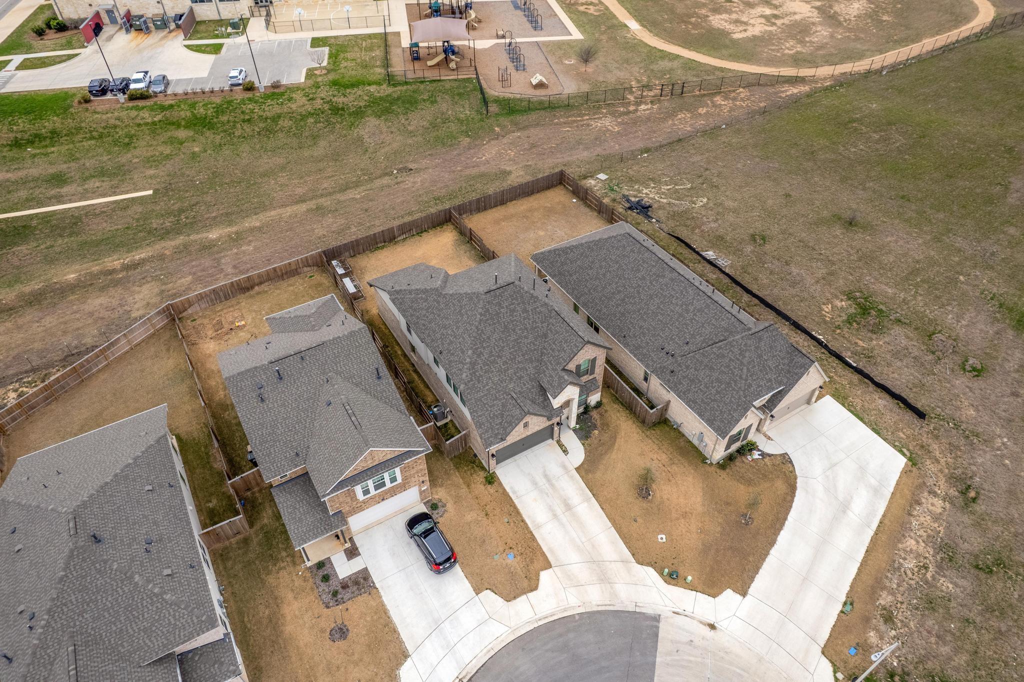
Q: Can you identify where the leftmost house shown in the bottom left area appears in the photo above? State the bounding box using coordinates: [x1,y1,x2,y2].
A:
[0,404,252,682]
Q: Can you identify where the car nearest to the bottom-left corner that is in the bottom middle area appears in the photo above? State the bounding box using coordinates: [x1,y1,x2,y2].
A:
[403,511,461,577]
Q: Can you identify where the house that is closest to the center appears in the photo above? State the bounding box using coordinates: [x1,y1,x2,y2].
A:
[368,253,614,473]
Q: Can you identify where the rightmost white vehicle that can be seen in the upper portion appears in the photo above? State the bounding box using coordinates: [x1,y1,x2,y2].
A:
[227,67,244,83]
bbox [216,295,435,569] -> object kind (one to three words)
house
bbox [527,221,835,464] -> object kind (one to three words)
house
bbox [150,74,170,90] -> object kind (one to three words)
car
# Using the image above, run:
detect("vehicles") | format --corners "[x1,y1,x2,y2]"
[227,67,244,83]
[109,75,131,92]
[88,77,110,93]
[403,511,461,577]
[129,69,153,90]
[150,74,170,90]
